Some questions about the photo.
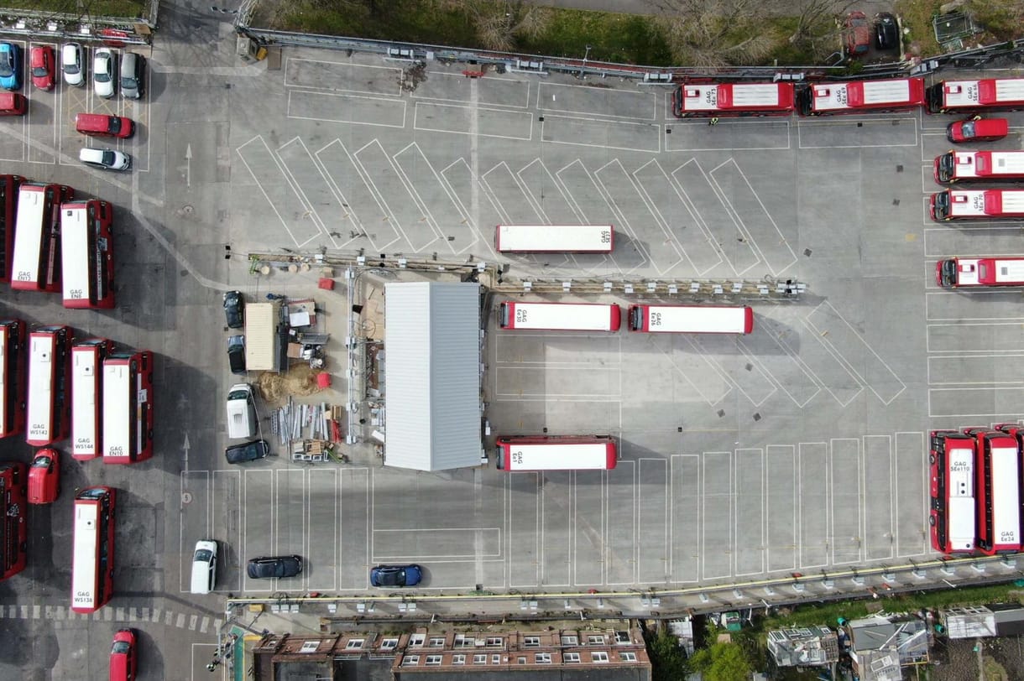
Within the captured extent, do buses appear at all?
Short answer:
Yes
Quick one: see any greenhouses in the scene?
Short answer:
Yes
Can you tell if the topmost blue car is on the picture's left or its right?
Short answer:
left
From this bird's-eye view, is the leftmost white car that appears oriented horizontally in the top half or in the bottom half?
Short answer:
top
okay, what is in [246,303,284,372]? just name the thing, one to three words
building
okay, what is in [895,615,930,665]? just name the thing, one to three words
greenhouse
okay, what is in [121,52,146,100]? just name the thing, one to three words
car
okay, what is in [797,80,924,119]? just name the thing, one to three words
bus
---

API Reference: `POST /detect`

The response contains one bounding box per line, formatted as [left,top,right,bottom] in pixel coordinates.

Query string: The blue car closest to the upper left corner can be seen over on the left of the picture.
[0,43,22,90]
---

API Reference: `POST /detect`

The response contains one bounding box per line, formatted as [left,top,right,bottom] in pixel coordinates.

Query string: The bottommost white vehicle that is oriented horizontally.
[497,433,616,469]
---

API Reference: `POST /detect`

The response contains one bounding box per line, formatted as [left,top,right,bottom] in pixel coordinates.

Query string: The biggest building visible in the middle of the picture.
[383,282,489,471]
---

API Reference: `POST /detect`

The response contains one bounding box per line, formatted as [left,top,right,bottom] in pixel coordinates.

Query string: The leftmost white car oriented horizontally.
[81,147,133,171]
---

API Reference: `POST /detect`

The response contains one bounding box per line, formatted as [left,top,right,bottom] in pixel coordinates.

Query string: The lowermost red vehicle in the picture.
[108,627,138,681]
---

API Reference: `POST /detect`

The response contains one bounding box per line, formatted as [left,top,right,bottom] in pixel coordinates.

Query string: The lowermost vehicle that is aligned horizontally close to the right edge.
[936,254,1024,290]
